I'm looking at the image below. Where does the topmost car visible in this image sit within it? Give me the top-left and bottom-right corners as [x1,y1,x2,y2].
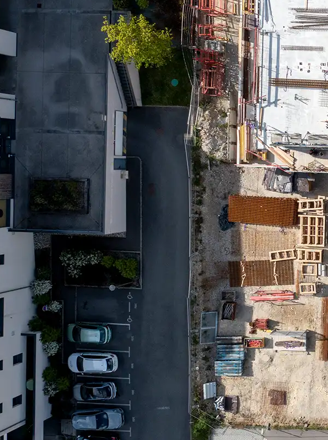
[63,322,111,348]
